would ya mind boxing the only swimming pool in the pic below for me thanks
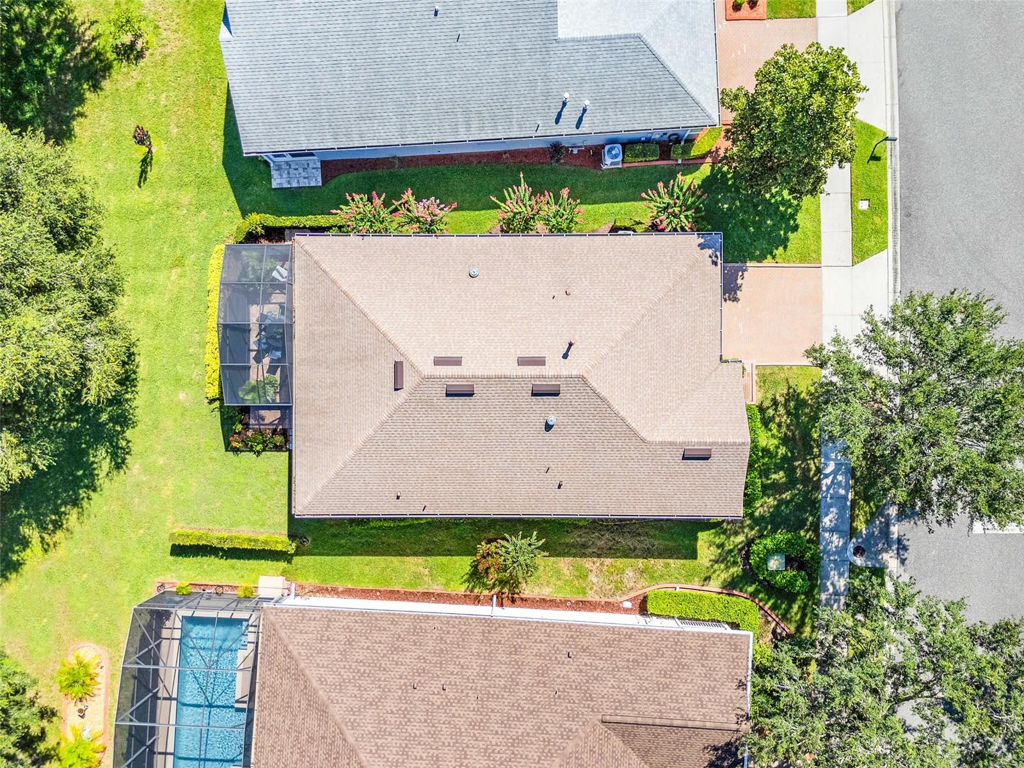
[175,616,248,768]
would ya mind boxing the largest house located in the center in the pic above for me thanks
[293,234,751,517]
